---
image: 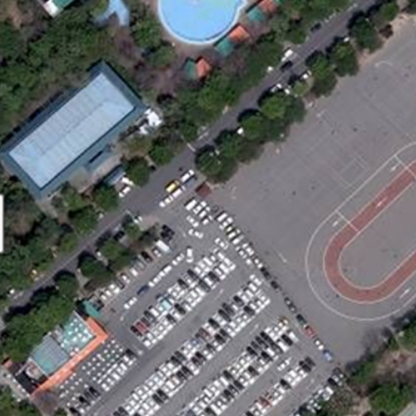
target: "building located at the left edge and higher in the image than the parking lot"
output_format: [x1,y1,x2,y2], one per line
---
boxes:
[0,61,146,198]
